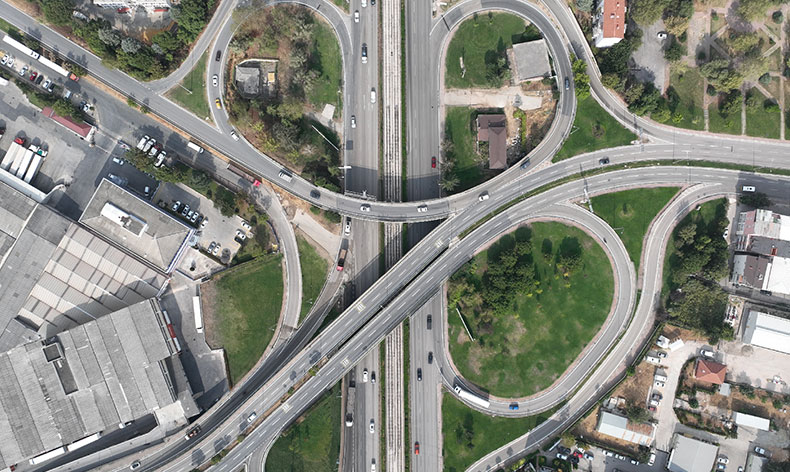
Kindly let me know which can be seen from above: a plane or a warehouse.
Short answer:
warehouse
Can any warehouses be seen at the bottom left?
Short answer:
Yes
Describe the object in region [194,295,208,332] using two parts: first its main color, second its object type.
white vehicle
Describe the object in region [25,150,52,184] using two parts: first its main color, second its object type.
white truck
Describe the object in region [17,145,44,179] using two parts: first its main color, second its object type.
white truck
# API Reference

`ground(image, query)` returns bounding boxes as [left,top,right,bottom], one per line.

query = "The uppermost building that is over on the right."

[591,0,624,47]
